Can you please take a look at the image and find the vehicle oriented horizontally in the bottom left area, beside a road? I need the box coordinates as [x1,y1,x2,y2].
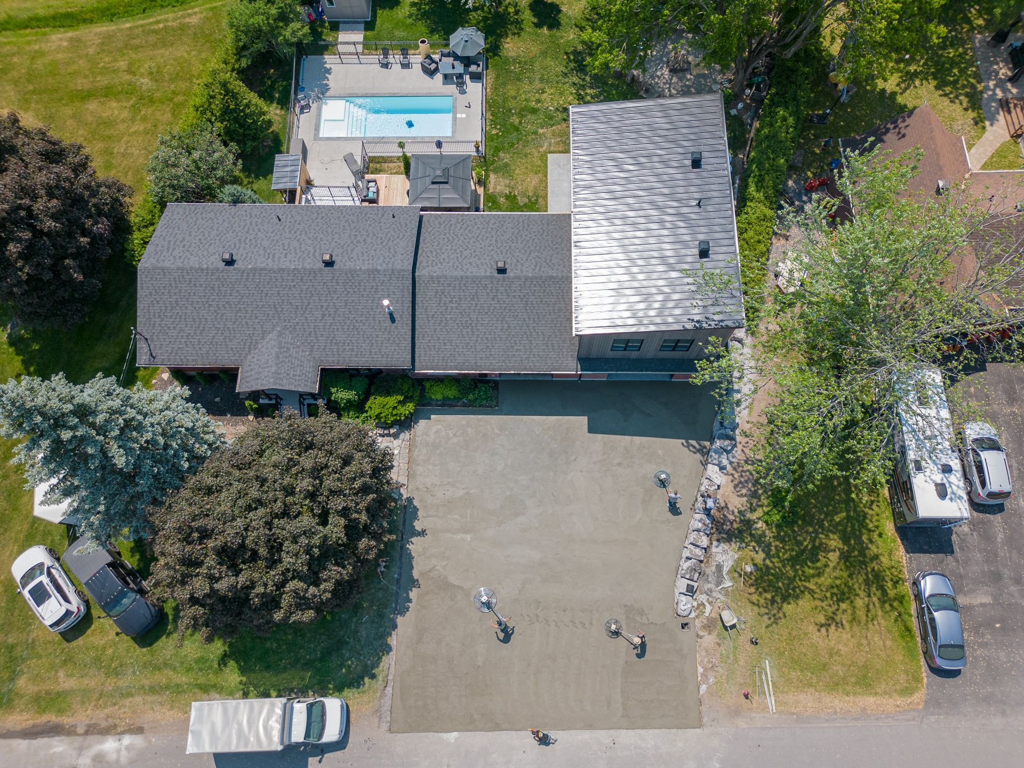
[186,686,351,757]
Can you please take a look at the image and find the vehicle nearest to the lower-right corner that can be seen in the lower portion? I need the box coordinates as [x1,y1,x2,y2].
[909,573,968,673]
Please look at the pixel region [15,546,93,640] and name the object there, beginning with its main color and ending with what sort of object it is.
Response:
white car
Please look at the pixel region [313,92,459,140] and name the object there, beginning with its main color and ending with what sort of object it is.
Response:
white swimming pool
